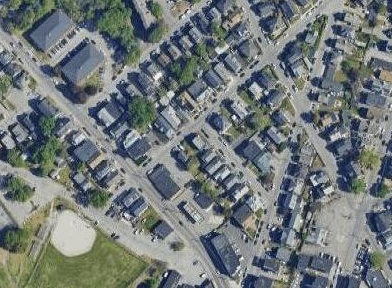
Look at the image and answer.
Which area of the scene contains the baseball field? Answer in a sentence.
The baseball field is located in the bottom left region of the scene.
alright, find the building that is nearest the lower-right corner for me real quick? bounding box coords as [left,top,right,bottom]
[366,267,390,288]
